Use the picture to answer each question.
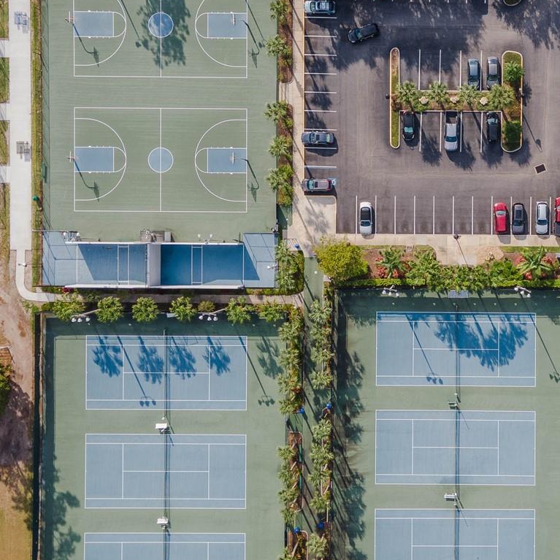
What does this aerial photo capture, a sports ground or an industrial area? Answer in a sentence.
The area seen from above is a sports ground.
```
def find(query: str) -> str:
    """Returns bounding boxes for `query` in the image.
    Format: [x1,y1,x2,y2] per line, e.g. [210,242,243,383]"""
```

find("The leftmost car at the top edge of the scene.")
[303,0,336,16]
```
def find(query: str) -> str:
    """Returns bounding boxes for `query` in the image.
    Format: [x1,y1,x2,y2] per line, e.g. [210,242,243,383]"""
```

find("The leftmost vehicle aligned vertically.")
[358,202,373,235]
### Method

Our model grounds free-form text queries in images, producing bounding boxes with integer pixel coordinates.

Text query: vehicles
[486,57,500,90]
[444,112,458,153]
[494,203,509,234]
[302,131,334,146]
[535,202,550,235]
[466,58,481,91]
[358,202,373,235]
[303,0,336,16]
[302,178,334,193]
[554,197,560,237]
[486,112,501,144]
[401,112,416,143]
[511,203,526,235]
